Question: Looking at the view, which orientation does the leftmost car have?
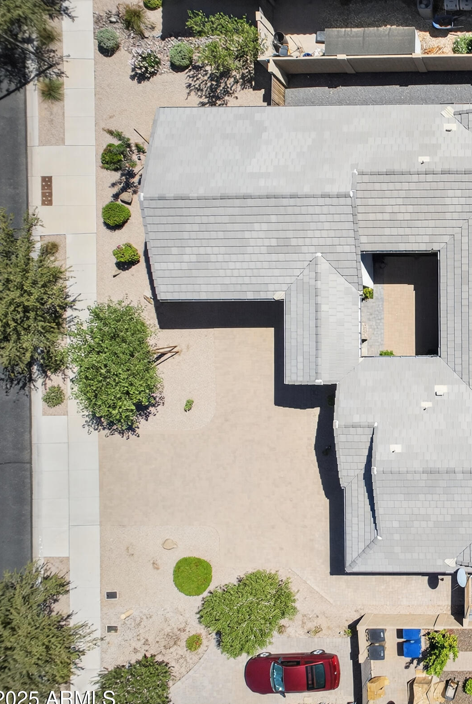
from left to right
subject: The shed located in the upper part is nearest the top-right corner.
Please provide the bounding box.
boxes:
[324,25,417,56]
